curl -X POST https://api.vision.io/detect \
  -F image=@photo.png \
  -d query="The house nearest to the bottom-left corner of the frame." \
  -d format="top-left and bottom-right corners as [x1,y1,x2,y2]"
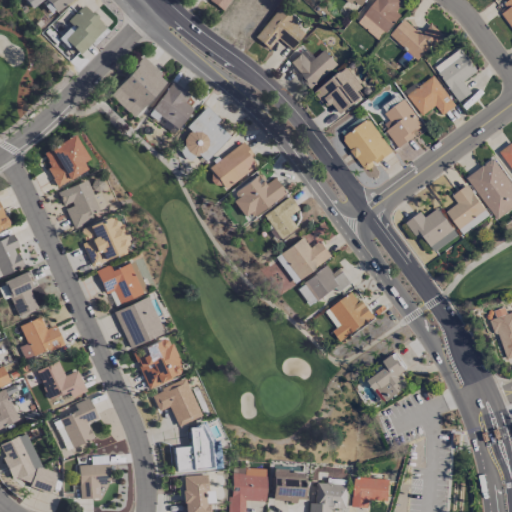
[1,435,63,494]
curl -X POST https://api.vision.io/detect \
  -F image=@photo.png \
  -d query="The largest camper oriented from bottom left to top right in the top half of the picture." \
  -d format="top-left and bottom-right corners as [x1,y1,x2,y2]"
[464,91,484,108]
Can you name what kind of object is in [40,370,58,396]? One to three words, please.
solar panel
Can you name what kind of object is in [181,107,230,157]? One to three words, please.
house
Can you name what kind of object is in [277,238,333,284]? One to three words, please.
house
